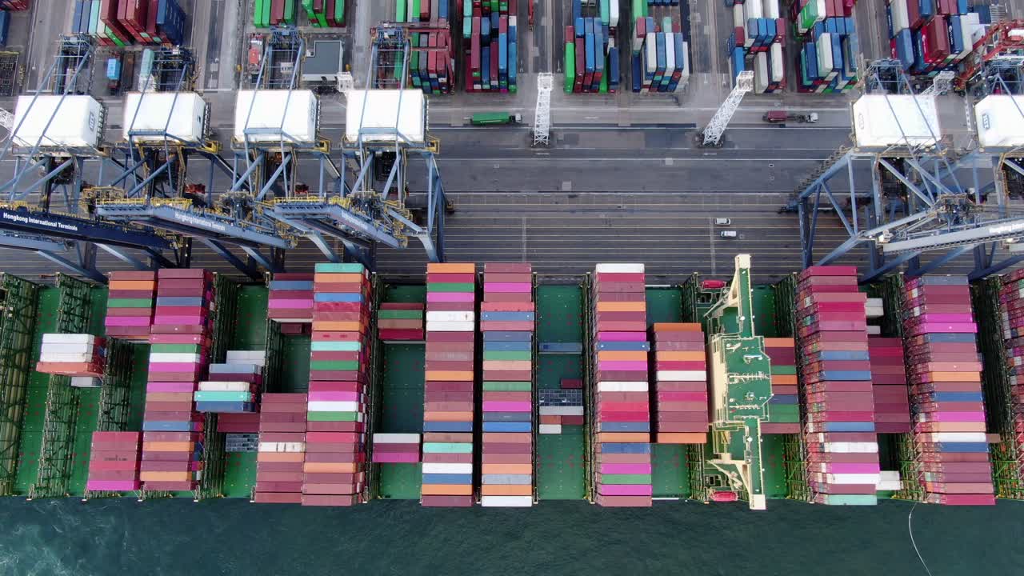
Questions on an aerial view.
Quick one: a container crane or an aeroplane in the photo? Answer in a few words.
container crane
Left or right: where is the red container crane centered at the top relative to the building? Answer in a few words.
right of it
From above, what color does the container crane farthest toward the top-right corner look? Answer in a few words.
red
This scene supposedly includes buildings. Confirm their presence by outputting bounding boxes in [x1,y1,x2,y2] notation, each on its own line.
[302,40,344,80]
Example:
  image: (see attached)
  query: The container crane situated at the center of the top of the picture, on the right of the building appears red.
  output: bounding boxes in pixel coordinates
[394,27,454,89]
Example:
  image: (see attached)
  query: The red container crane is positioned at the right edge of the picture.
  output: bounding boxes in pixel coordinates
[956,17,1024,84]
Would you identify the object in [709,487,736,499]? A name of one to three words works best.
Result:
boat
